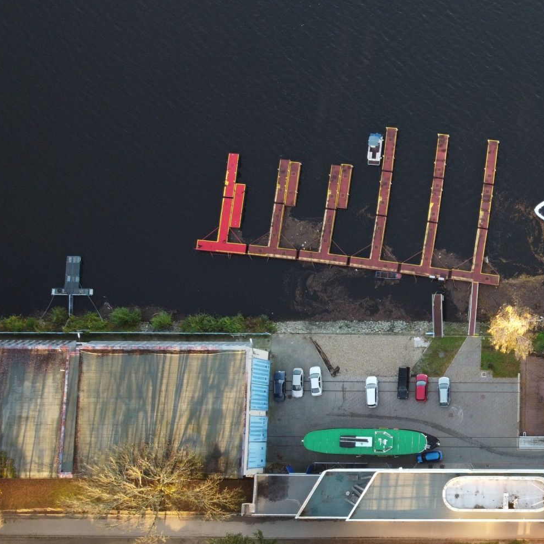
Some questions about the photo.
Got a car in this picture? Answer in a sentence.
Yes, there's a car here.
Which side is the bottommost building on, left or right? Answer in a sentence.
The bottommost building sits on the right side.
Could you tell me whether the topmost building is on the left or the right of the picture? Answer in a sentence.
It is on the left.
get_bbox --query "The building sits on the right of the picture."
[242,467,544,521]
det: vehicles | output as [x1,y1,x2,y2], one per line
[415,373,429,403]
[417,450,444,464]
[394,366,412,400]
[271,371,287,401]
[290,368,305,398]
[436,375,451,407]
[308,366,324,397]
[363,375,379,407]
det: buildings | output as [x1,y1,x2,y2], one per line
[0,341,285,477]
[242,467,544,521]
